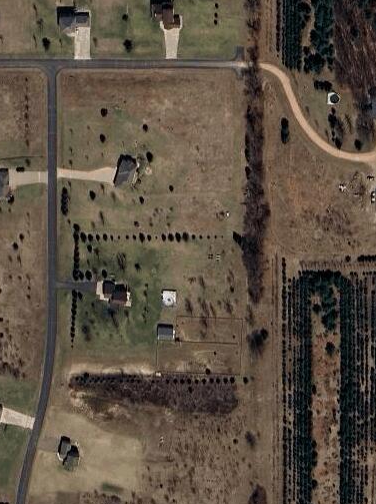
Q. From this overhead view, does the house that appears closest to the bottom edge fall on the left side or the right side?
left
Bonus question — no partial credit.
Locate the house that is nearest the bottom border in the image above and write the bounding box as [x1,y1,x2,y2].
[57,439,82,469]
